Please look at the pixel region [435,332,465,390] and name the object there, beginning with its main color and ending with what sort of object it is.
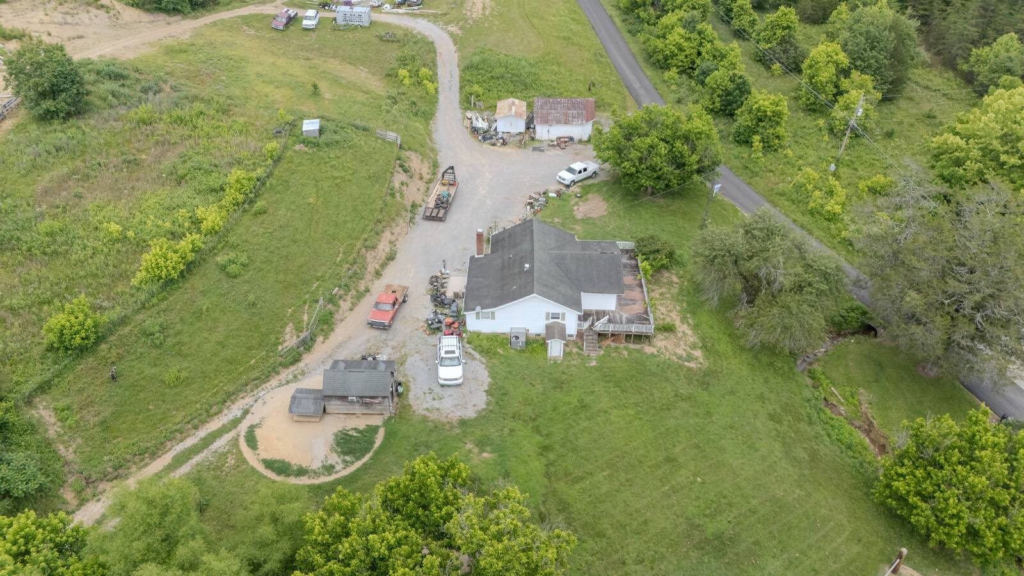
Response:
white car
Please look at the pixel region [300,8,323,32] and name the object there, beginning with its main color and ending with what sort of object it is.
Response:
white car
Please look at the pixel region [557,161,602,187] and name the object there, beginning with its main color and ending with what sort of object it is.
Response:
white truck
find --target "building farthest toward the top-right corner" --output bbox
[534,98,596,142]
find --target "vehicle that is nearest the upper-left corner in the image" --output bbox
[272,12,298,31]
